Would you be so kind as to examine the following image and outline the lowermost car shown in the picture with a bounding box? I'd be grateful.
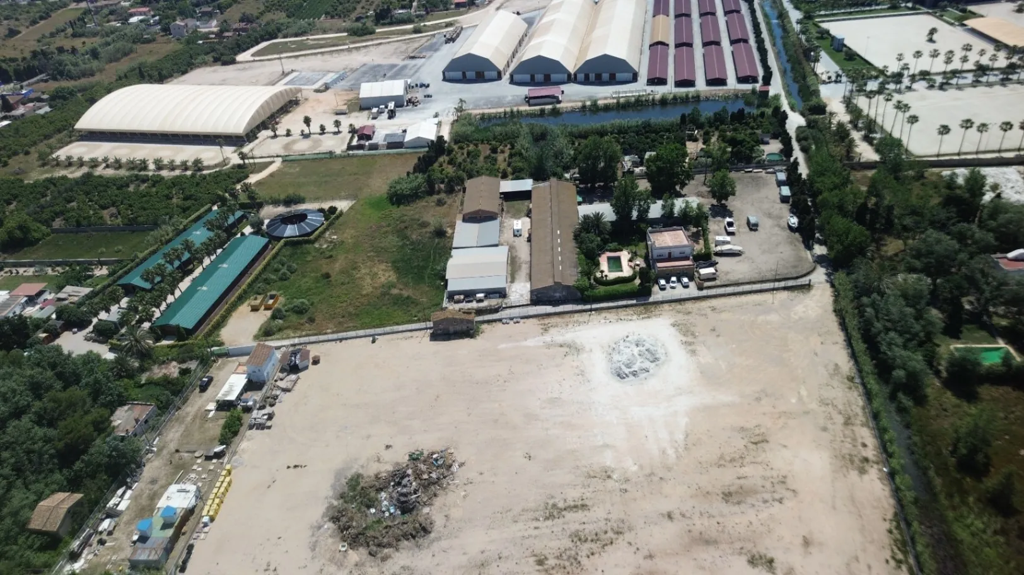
[198,375,212,391]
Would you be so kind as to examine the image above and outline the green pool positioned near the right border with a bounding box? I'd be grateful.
[953,345,1016,366]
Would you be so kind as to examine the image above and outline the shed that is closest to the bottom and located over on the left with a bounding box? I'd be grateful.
[128,538,175,569]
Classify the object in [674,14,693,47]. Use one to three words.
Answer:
shed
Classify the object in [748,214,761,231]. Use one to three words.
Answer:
vehicle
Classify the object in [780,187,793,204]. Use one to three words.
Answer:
vehicle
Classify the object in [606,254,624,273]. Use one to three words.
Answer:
swimming pool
